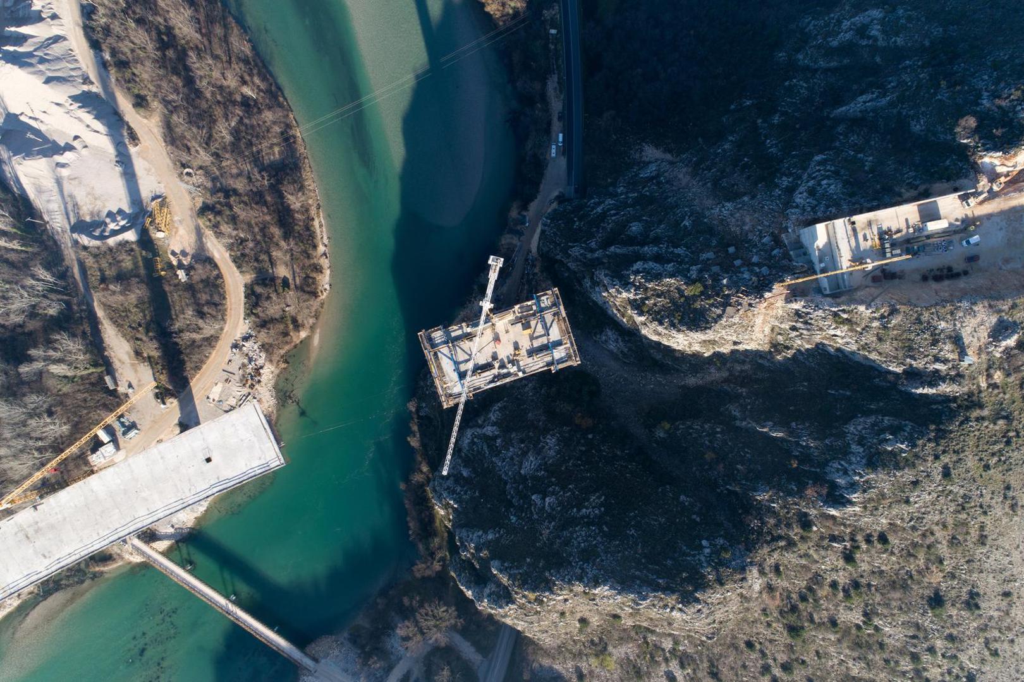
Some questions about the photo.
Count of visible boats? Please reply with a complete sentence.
The photo contains no boats.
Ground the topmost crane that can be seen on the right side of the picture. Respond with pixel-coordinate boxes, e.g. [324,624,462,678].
[772,254,910,289]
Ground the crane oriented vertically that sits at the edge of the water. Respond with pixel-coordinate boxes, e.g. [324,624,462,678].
[443,258,504,476]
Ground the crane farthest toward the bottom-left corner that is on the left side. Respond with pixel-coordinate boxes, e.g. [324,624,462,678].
[0,381,157,515]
